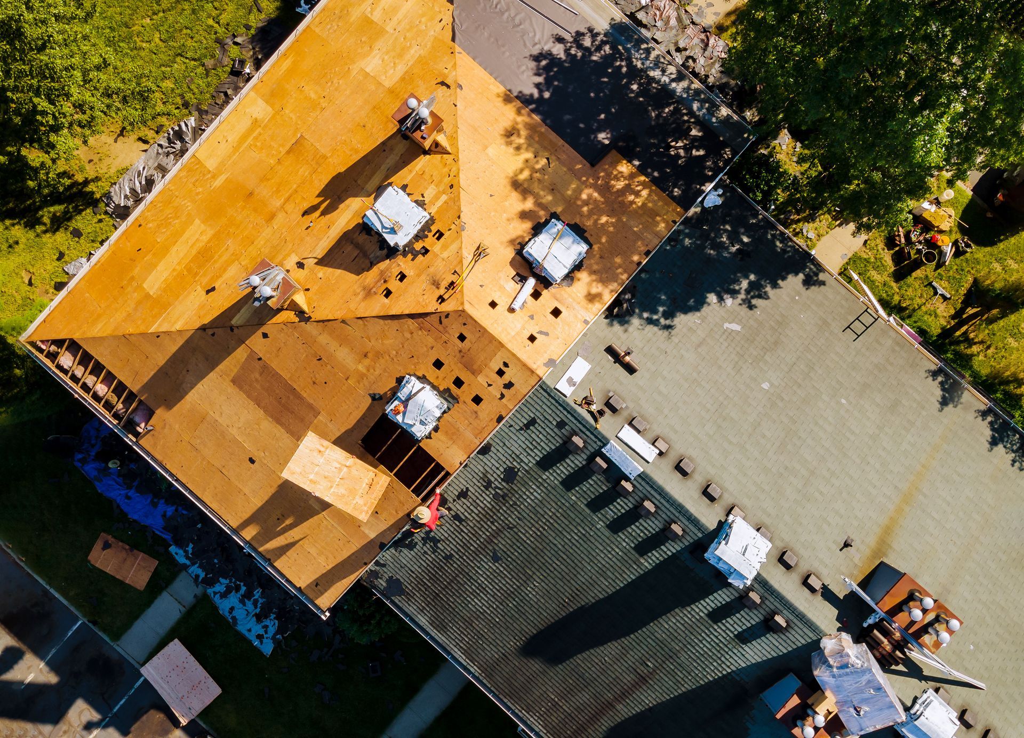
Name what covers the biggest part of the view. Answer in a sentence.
Most of the picture is covered by buildings.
